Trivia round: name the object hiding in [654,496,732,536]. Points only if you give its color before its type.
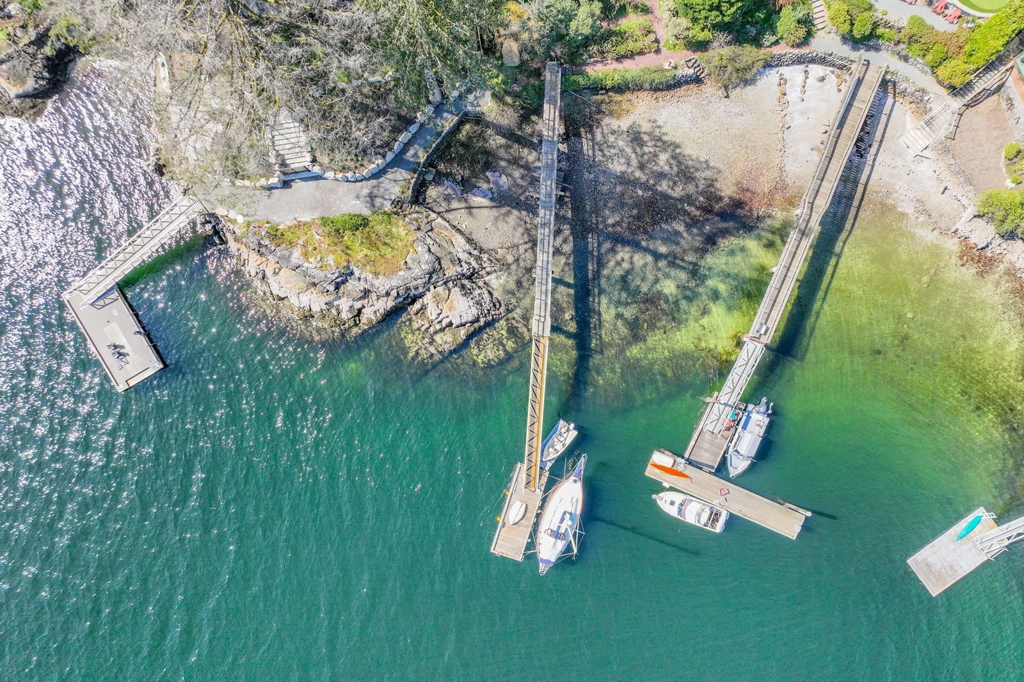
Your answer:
white boat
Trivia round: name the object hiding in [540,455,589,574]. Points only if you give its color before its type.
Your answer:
white boat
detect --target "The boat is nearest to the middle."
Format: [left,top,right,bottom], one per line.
[541,419,577,469]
